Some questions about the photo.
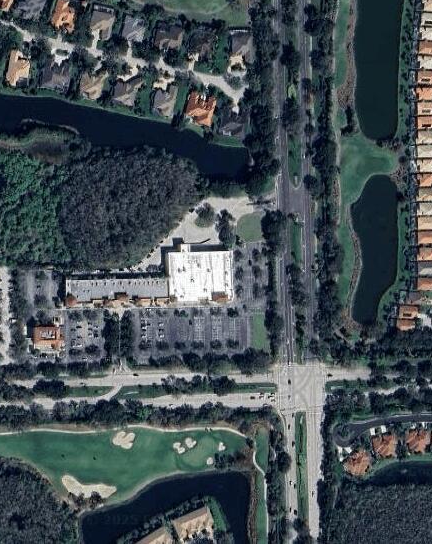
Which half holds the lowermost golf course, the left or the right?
left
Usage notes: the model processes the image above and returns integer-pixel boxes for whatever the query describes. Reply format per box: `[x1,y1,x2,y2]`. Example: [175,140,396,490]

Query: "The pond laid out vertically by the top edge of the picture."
[354,0,404,140]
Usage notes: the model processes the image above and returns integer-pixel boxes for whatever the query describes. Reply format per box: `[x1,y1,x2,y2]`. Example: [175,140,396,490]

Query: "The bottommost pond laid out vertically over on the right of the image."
[353,175,400,322]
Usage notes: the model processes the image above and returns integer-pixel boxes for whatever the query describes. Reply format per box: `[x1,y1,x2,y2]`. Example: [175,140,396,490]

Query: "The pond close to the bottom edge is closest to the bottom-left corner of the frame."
[80,471,250,544]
